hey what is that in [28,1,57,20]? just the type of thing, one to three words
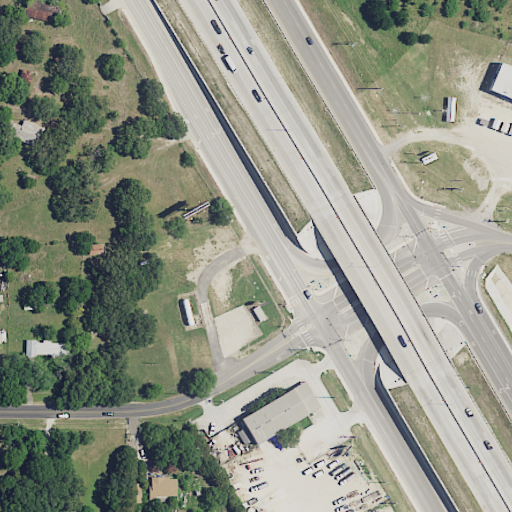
barn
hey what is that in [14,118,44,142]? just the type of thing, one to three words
house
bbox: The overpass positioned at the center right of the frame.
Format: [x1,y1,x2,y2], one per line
[310,192,452,386]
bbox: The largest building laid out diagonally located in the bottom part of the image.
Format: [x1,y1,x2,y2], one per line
[244,382,320,444]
